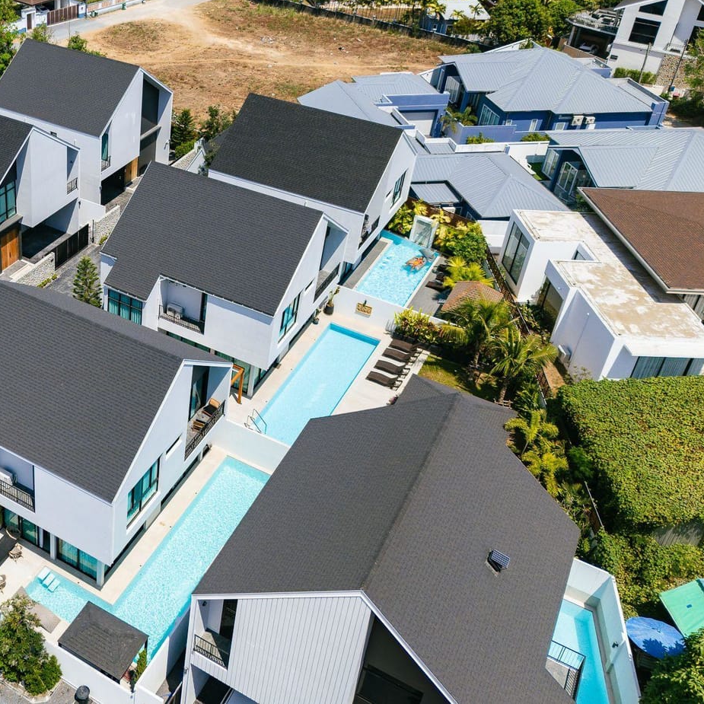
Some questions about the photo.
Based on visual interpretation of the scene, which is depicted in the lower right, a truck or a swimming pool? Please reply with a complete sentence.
It is a swimming pool that can be seen in the lower right.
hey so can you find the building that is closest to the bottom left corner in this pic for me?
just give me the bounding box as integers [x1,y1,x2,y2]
[54,602,153,704]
